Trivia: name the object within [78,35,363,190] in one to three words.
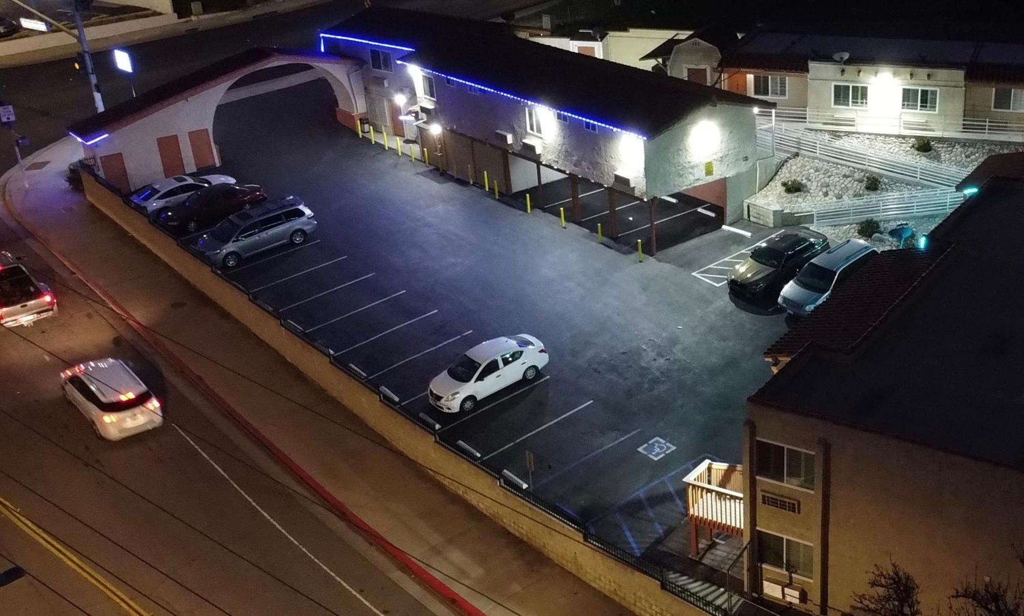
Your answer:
building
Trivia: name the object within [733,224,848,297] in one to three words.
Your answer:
car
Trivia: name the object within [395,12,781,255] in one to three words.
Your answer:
building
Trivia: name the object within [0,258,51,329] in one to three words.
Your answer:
truck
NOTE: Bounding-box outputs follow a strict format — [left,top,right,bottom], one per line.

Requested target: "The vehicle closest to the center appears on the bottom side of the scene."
[416,333,547,415]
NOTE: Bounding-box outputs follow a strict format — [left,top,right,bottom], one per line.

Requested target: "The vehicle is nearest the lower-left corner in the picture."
[59,357,155,438]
